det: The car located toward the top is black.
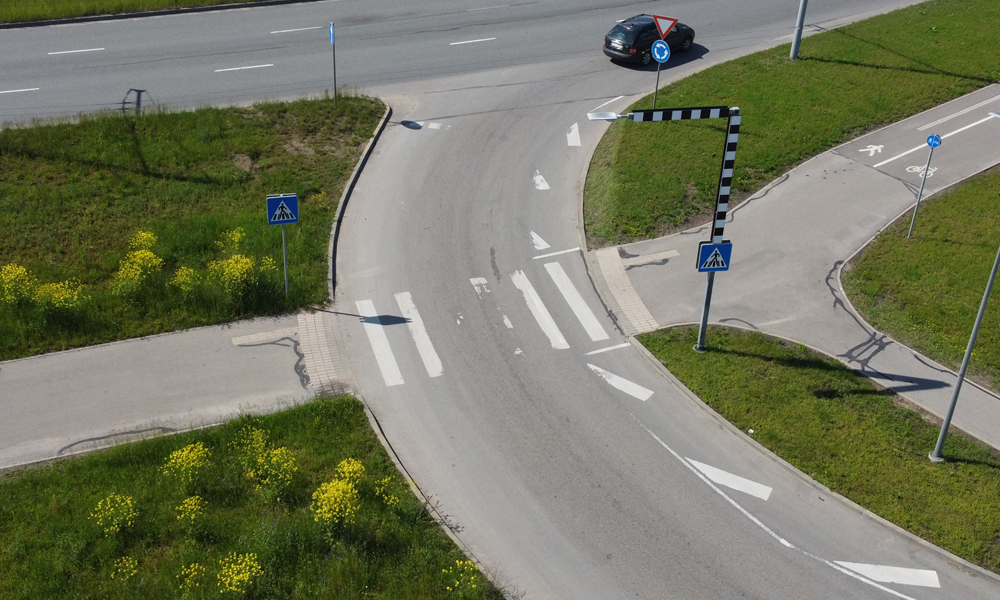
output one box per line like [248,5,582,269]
[602,12,696,64]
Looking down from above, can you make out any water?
No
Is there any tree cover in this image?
No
